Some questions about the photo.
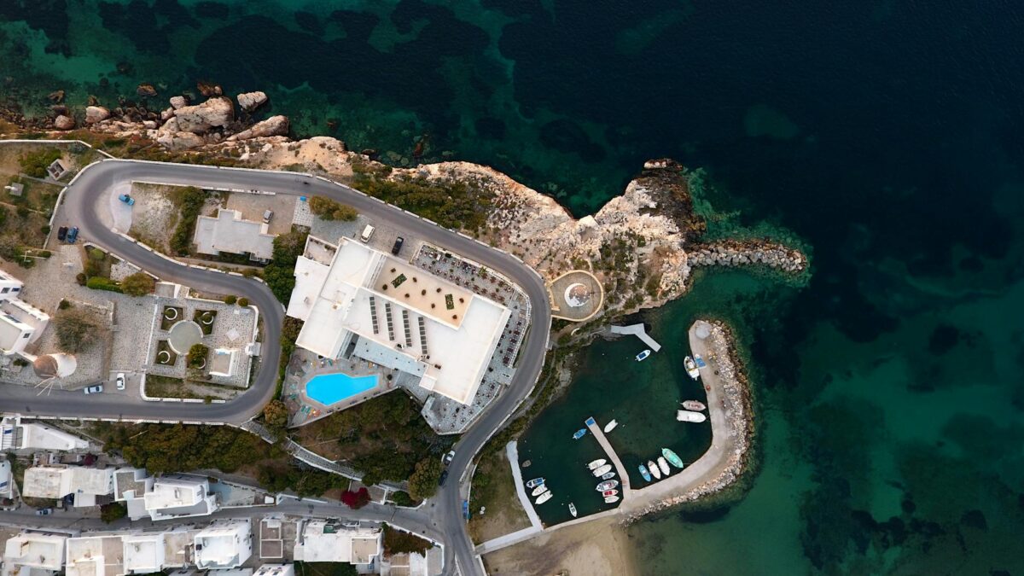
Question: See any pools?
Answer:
Yes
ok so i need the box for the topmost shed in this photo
[48,160,74,182]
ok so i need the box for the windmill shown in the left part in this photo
[28,353,78,393]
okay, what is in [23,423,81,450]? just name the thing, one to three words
house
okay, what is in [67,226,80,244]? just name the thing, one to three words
vehicle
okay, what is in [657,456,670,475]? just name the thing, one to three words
boat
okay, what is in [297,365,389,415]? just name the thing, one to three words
swimming pool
